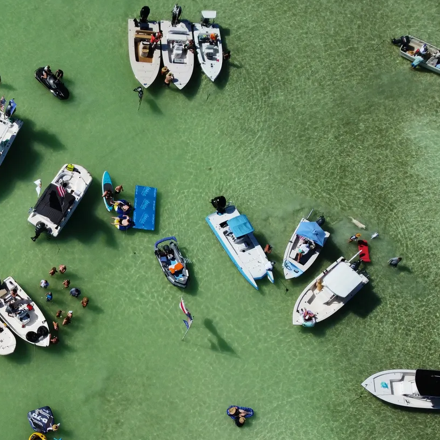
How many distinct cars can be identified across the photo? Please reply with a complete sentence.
The photo contains no cars.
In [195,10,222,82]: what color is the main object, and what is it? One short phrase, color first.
white boat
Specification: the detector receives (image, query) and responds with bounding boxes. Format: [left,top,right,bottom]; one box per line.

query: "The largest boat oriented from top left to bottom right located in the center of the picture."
[205,194,283,291]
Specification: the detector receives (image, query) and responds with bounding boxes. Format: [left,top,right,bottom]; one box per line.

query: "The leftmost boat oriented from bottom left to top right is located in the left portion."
[29,165,90,239]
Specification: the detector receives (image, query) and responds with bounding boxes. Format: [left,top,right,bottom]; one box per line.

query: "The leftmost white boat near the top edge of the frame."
[129,5,160,88]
